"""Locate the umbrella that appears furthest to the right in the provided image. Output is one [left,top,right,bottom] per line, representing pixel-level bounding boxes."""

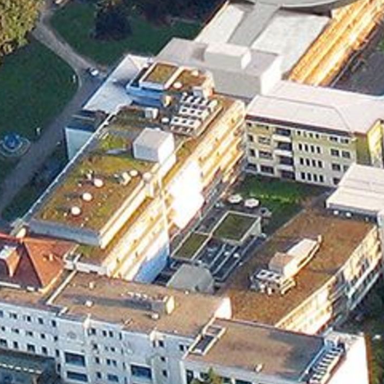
[243,199,261,214]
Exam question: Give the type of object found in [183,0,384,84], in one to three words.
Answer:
building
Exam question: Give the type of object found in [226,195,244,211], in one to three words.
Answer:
umbrella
